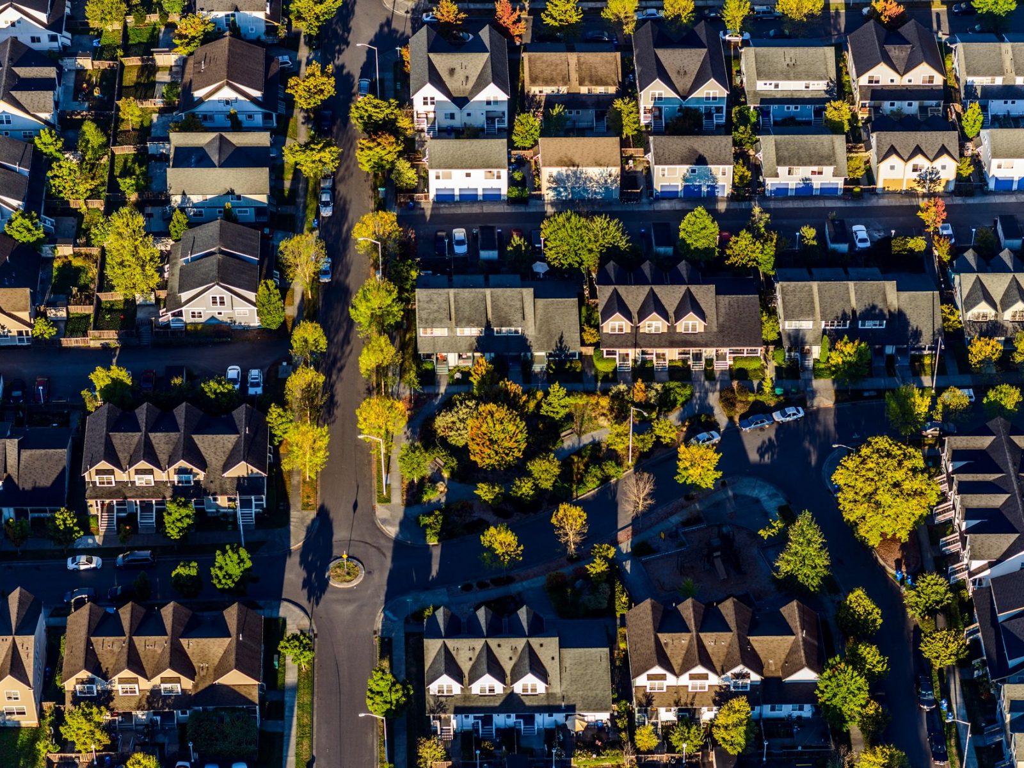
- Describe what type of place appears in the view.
residential area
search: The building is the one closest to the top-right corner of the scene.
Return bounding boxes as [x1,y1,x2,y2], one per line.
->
[948,33,1024,123]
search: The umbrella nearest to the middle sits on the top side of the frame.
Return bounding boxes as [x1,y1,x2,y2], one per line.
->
[532,262,549,281]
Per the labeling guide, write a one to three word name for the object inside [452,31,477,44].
vehicle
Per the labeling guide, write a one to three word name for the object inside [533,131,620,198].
house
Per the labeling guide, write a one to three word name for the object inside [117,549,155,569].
vehicle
